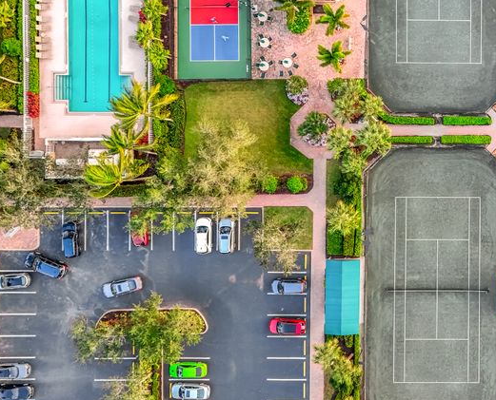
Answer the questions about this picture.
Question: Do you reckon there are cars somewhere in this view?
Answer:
Yes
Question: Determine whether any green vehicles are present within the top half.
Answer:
No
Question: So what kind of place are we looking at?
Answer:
sports ground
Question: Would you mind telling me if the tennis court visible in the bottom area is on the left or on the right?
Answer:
right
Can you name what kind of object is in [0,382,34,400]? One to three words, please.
car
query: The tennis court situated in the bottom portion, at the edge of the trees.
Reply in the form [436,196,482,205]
[364,148,496,400]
